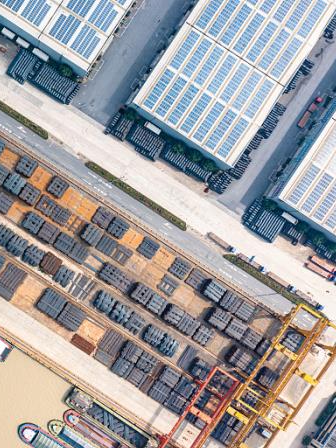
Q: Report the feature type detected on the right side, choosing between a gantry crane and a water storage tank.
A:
gantry crane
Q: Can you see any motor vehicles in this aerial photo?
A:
Yes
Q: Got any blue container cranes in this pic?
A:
No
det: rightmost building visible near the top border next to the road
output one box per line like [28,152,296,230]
[126,0,336,172]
